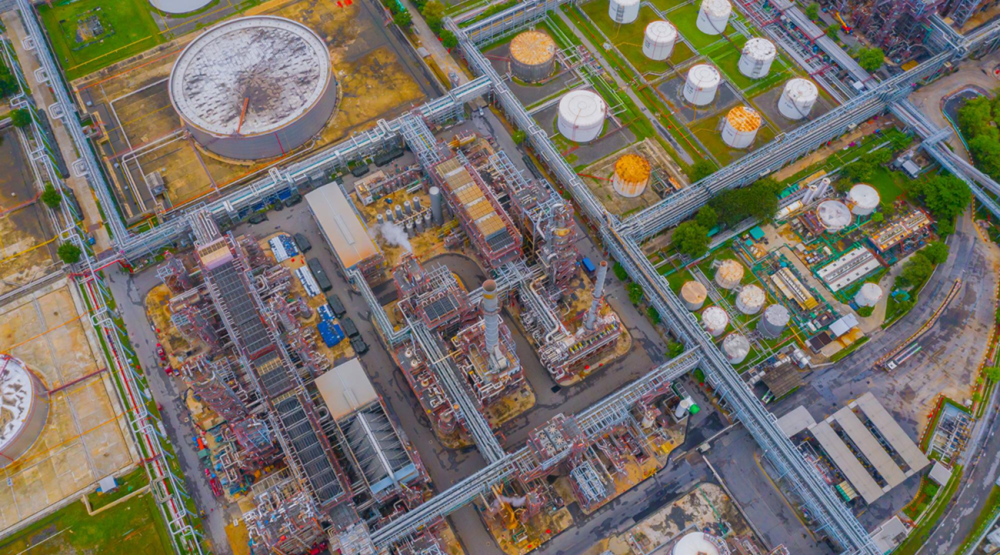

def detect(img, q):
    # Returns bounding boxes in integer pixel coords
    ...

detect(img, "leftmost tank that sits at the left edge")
[0,345,58,464]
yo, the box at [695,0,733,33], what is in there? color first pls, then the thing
white storage tank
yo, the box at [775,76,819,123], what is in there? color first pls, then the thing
white storage tank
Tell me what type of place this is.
industrial area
